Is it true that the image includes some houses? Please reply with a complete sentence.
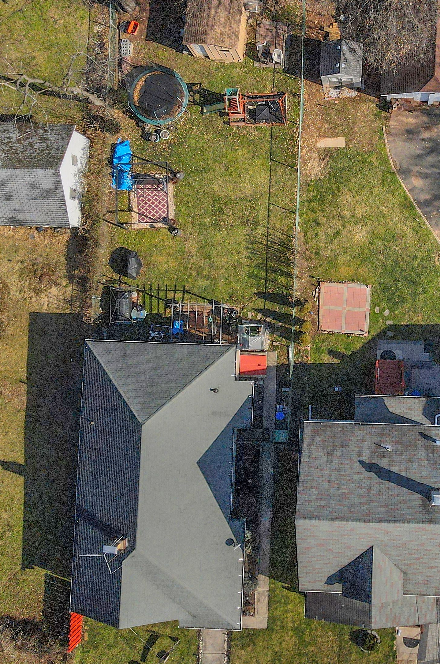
Yes, this view includes a house.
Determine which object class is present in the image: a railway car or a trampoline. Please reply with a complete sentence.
The one in the frame is a trampoline.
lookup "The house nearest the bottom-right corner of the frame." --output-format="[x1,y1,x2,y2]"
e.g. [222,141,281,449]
[296,394,440,628]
